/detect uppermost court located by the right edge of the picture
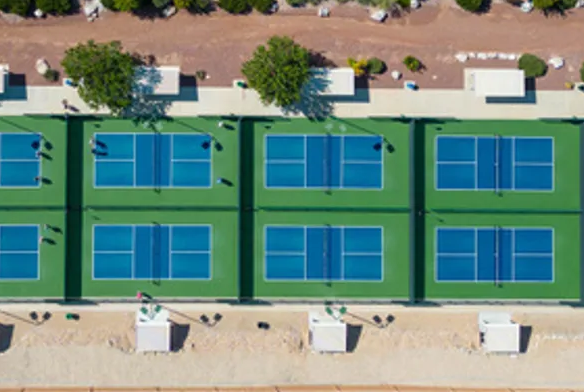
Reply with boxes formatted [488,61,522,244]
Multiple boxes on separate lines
[414,118,581,211]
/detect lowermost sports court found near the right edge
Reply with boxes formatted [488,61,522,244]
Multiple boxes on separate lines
[414,211,581,300]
